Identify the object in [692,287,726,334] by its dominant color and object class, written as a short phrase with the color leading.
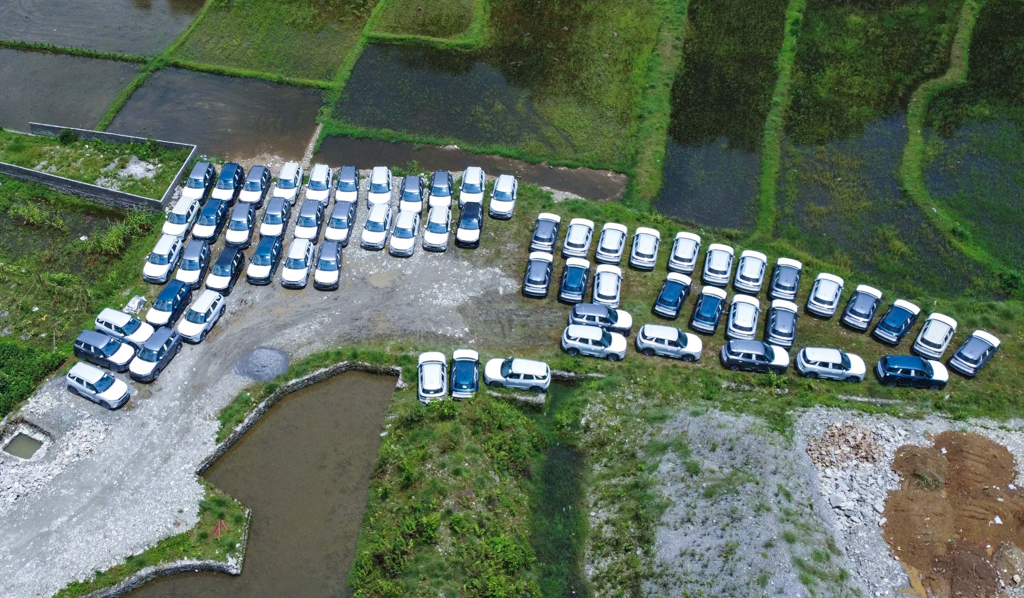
blue car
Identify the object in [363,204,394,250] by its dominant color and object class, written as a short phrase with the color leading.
white car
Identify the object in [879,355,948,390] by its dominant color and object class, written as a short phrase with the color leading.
blue car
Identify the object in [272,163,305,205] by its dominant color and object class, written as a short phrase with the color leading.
white car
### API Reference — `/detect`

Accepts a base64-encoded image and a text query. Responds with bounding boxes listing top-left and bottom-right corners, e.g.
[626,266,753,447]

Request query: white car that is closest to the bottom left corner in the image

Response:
[65,362,131,408]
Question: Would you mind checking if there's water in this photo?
Yes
